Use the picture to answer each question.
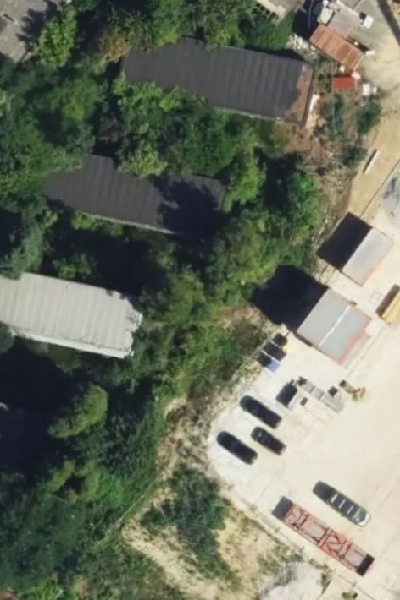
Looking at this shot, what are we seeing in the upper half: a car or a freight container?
freight container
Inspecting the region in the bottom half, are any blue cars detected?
No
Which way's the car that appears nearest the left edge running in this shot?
at an angle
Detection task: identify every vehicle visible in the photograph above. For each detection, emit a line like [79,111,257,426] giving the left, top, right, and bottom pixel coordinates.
[252,427,286,454]
[320,486,369,525]
[219,432,258,465]
[243,397,283,429]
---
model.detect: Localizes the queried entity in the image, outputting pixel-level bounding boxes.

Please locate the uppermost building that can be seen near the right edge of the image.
[342,228,393,286]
